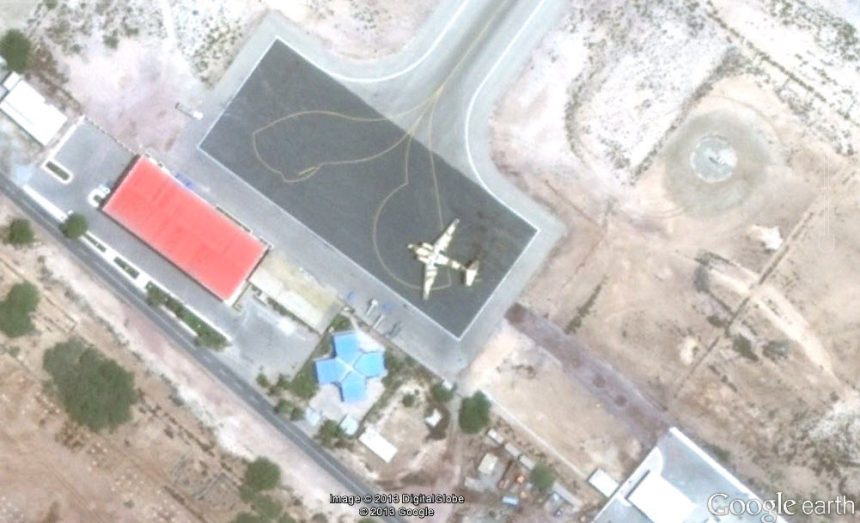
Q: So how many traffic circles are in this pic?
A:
0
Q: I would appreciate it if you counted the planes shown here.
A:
one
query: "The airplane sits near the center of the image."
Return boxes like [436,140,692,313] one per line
[409,218,482,300]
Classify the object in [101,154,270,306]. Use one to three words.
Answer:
building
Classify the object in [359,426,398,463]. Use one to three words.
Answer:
house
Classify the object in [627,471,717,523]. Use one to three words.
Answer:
building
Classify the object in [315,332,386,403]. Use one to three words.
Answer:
house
